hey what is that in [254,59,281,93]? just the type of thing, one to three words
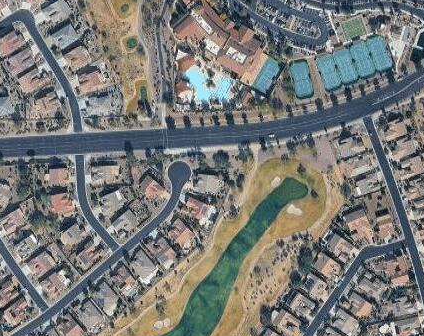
tennis court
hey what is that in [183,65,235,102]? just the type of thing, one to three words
swimming pool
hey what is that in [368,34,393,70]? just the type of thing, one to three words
tennis court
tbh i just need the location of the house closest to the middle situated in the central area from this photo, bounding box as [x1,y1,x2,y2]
[198,167,221,196]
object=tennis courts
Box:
[334,49,359,85]
[318,54,342,90]
[368,34,393,70]
[254,59,281,93]
[290,59,314,98]
[351,41,375,77]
